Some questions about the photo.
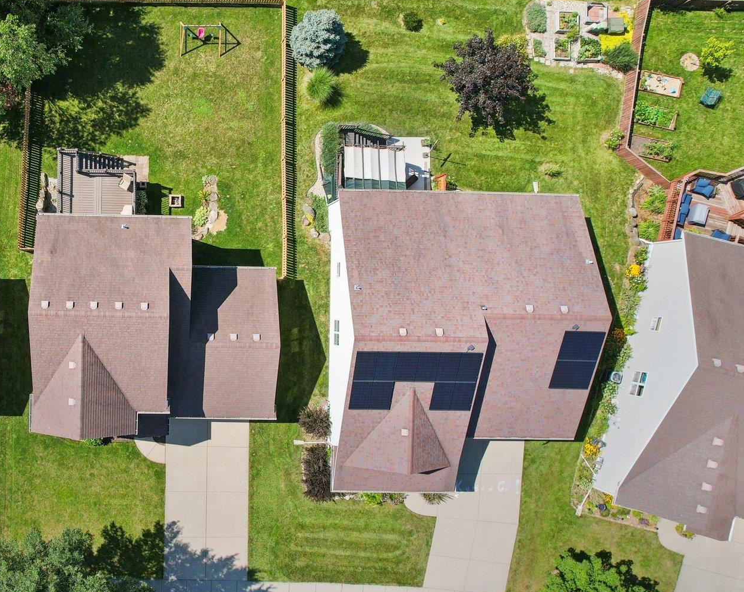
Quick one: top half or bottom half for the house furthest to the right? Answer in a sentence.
The bottom half of the photo is where the house furthest to the right is.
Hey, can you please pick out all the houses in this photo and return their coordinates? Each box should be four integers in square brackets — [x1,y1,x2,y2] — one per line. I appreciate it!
[579,231,744,541]
[298,184,618,492]
[25,212,282,441]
